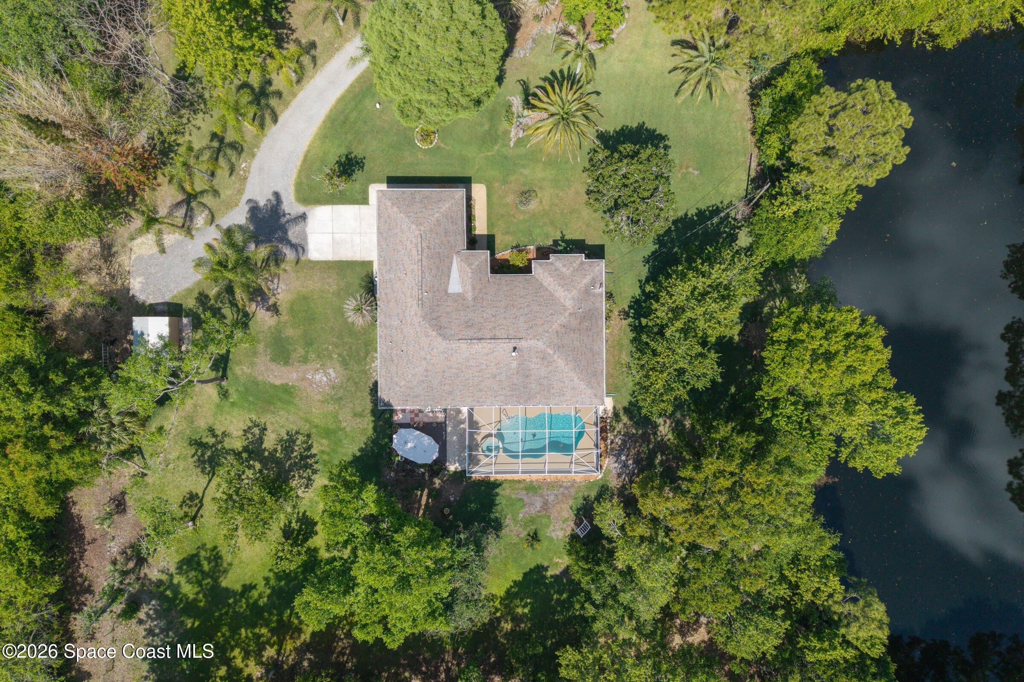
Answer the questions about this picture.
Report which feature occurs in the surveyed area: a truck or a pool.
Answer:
pool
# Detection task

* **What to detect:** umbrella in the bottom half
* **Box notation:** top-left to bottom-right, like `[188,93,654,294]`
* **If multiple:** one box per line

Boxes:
[393,429,439,464]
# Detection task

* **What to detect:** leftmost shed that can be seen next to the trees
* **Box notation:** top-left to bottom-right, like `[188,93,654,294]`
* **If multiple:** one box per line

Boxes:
[132,316,179,355]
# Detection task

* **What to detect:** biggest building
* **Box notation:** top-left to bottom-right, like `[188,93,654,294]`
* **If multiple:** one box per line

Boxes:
[375,187,607,409]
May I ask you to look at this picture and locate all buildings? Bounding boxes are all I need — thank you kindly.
[375,187,607,409]
[132,316,179,355]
